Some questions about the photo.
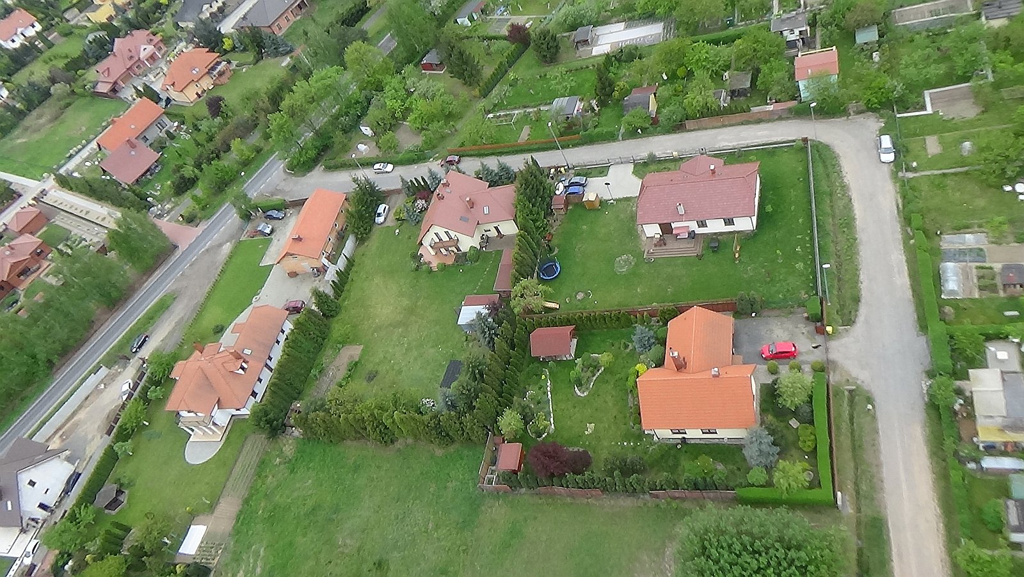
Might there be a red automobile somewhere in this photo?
Yes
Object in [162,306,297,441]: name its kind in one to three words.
house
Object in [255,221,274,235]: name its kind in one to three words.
car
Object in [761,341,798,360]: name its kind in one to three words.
car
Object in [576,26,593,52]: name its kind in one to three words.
shed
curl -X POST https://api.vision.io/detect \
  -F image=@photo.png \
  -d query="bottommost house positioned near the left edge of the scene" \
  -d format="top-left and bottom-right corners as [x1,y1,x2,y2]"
[0,435,79,553]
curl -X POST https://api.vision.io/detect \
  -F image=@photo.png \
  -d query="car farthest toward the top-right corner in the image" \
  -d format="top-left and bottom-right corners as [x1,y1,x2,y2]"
[877,132,895,162]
